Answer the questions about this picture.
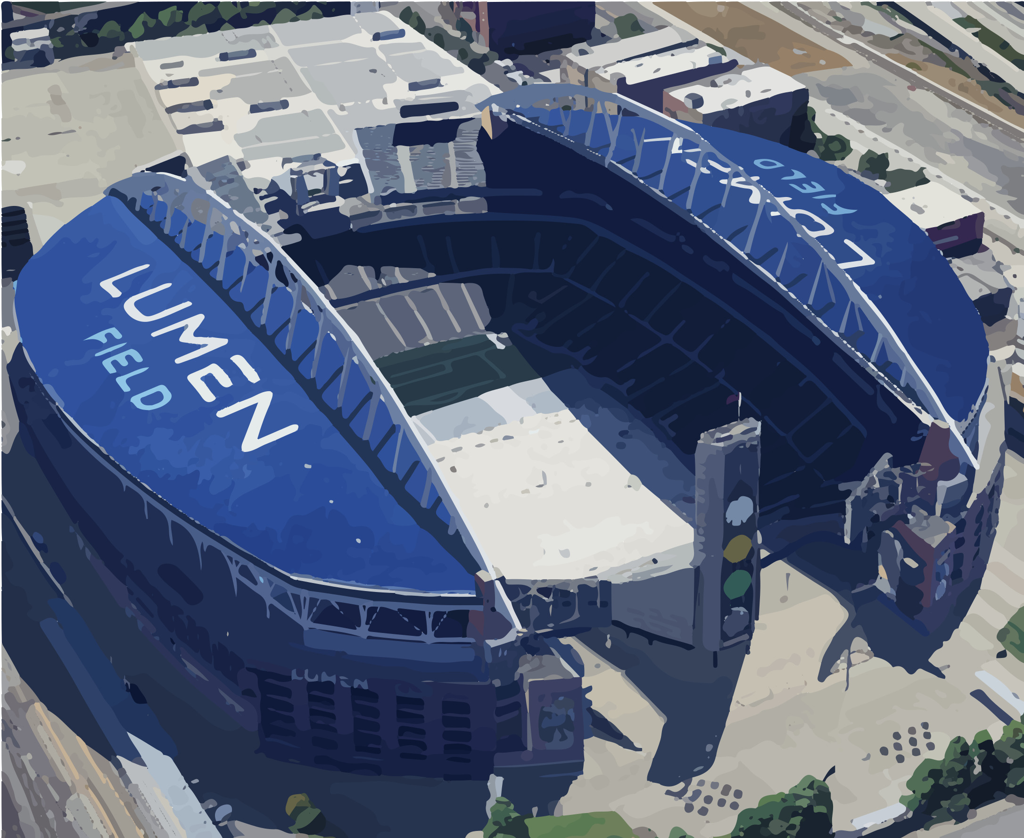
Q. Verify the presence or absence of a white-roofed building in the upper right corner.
Yes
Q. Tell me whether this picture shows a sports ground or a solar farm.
sports ground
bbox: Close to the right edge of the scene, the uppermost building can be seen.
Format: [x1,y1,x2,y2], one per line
[875,178,975,249]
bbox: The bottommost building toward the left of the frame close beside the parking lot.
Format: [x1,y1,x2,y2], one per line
[0,201,47,272]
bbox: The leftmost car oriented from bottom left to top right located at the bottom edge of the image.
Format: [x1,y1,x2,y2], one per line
[200,797,220,813]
